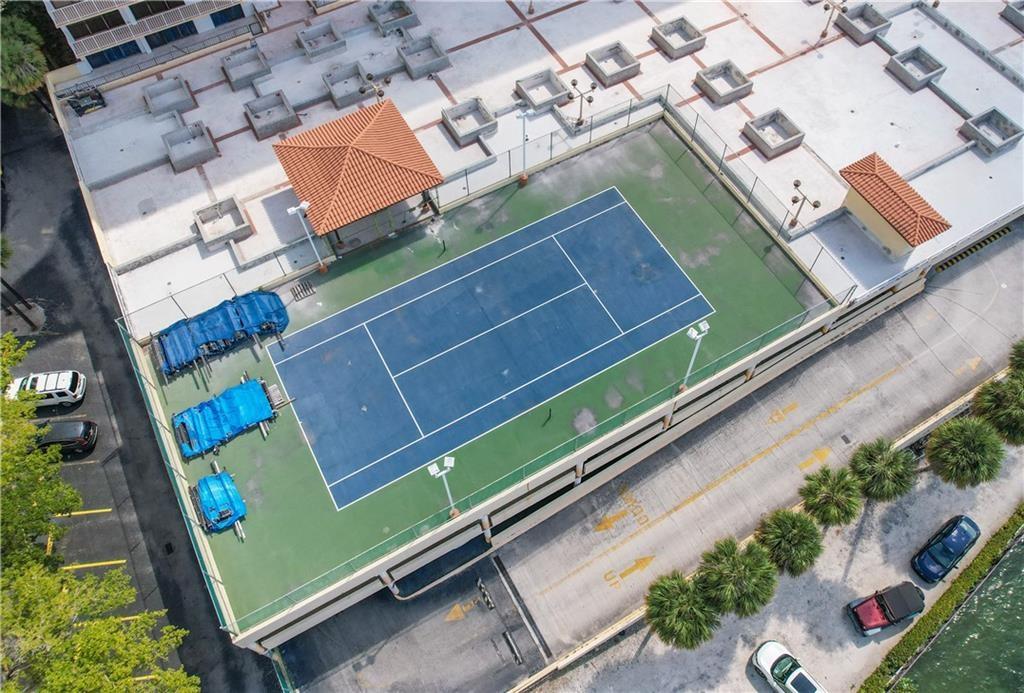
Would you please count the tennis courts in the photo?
1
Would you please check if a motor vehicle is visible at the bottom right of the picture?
Yes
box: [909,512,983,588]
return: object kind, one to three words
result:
car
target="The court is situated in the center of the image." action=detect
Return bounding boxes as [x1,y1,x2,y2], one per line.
[153,119,838,629]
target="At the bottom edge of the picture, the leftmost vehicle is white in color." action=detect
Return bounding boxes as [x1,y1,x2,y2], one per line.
[748,641,828,693]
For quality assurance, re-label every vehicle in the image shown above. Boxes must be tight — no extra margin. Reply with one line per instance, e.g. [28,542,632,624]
[748,641,828,693]
[844,580,930,636]
[5,377,88,416]
[29,424,99,460]
[909,512,983,588]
